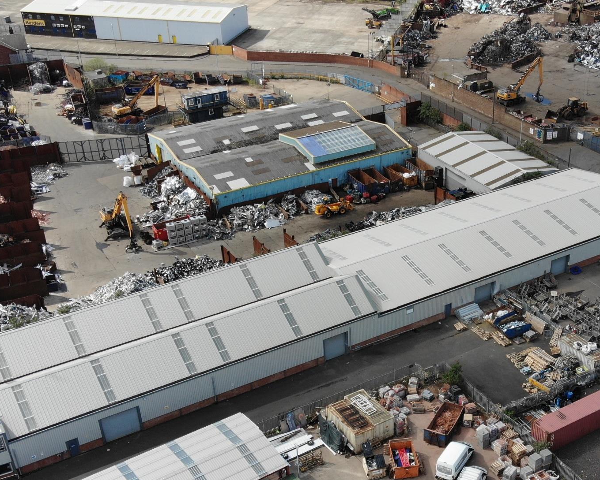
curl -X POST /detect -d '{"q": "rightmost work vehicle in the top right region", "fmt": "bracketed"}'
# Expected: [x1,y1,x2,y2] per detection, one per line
[550,96,589,122]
